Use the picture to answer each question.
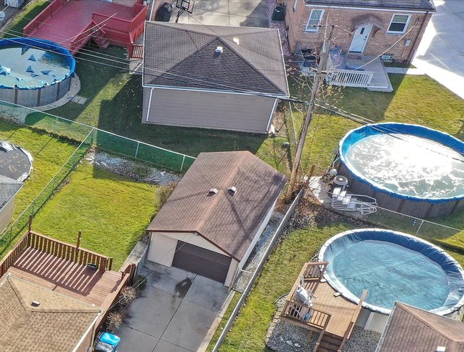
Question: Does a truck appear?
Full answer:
No, there's no truck here.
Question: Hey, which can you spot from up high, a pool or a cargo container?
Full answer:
I can see a pool in this picture.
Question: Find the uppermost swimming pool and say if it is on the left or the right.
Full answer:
You can find the uppermost swimming pool on the left side of the picture.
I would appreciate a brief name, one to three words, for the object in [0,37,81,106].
swimming pool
